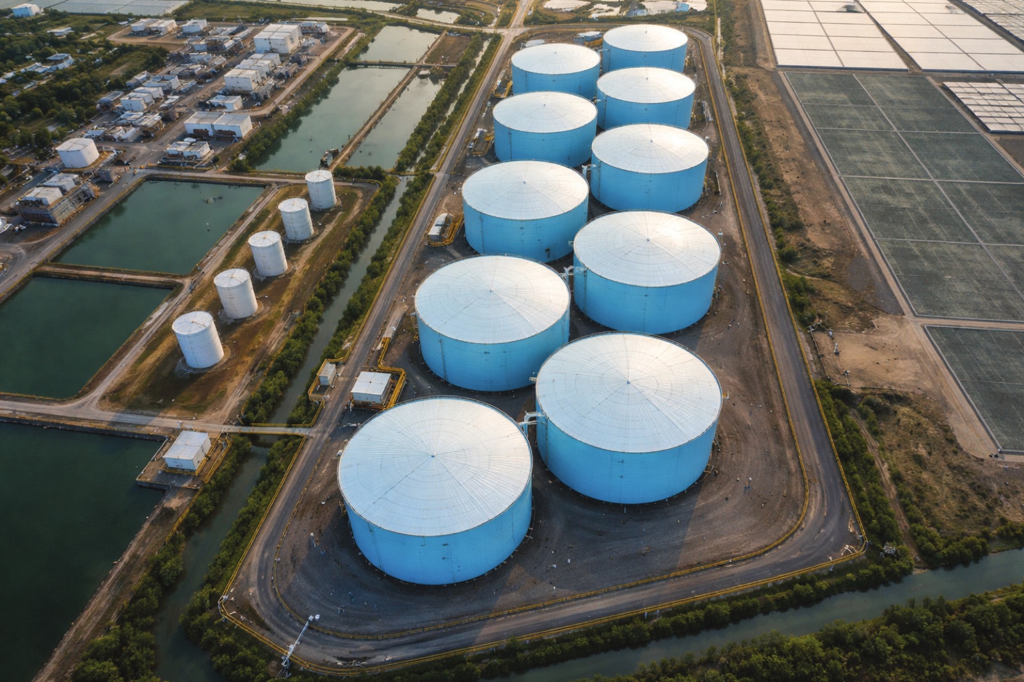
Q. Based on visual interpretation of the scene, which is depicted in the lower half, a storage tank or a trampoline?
storage tank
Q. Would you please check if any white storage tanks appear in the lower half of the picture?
Yes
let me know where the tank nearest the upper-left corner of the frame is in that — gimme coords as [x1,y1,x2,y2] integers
[52,134,105,169]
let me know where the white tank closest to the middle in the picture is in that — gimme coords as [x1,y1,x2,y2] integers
[411,253,571,391]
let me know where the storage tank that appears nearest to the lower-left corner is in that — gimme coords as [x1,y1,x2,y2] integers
[171,311,228,371]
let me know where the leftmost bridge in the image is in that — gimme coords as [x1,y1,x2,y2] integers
[237,421,319,443]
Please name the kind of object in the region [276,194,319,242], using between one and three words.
storage tank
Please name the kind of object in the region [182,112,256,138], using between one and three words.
building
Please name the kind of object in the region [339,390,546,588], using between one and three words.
storage tank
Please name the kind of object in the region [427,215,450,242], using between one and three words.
shed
